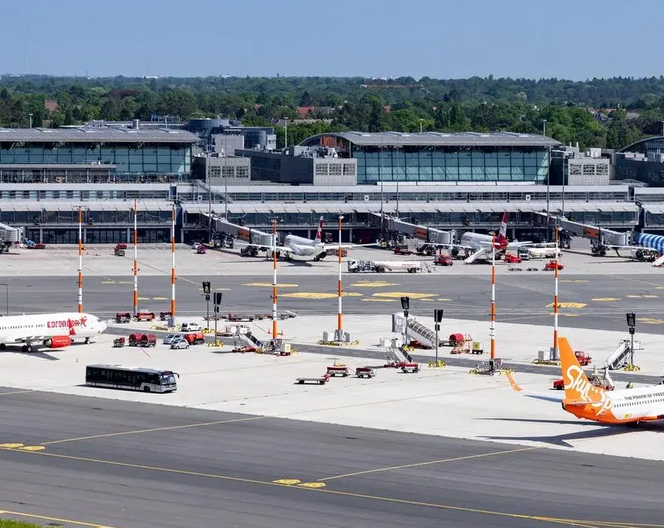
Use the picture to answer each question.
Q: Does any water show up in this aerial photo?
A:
No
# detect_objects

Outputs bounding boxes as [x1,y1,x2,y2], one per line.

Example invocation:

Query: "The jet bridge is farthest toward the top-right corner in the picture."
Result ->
[528,209,643,252]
